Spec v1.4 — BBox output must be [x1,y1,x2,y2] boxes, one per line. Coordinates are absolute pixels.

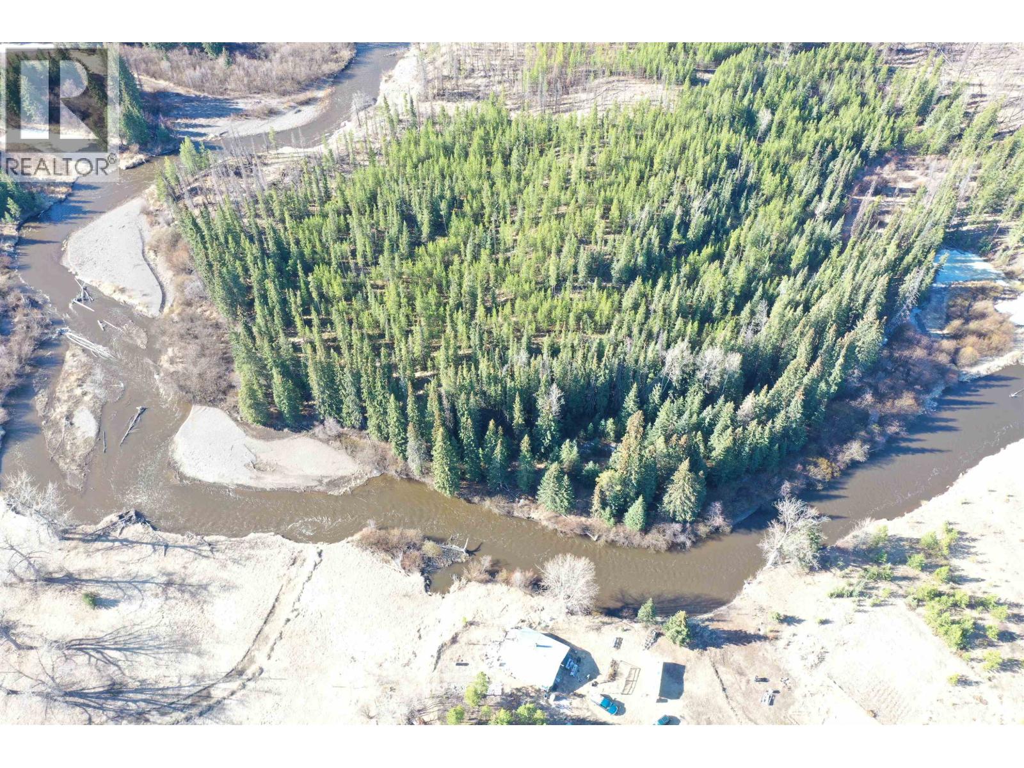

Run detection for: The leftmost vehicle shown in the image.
[588,691,621,719]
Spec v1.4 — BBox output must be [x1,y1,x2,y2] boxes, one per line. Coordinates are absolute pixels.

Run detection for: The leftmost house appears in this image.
[503,630,569,691]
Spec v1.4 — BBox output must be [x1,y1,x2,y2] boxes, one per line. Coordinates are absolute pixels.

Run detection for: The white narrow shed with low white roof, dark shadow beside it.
[637,660,663,704]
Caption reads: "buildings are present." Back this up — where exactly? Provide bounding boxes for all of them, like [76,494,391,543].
[637,660,663,704]
[503,630,569,691]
